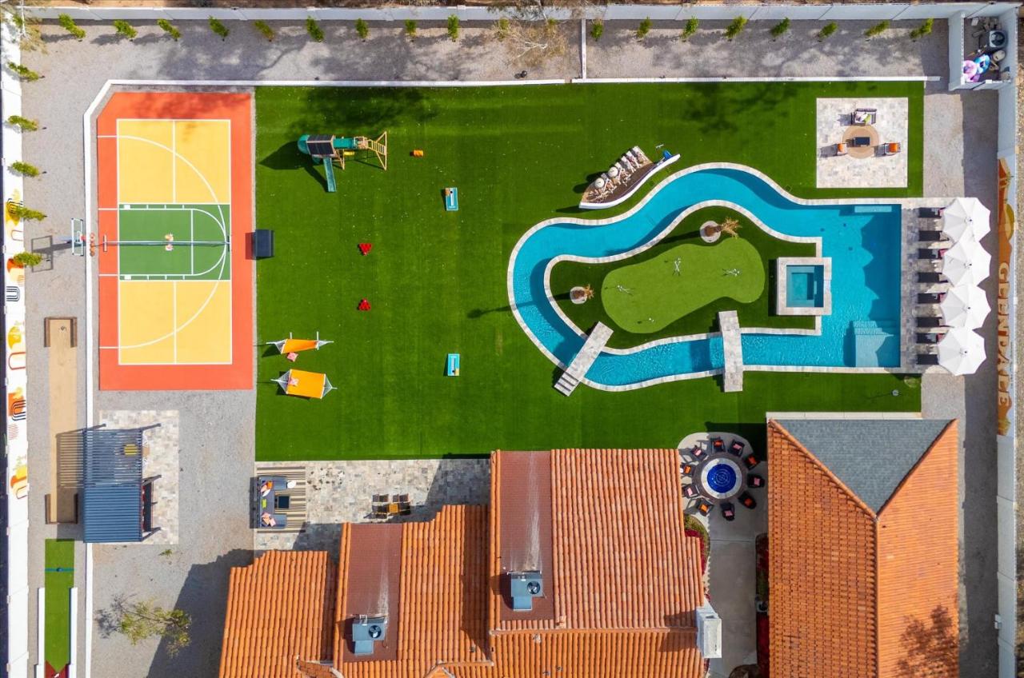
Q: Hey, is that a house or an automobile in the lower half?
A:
house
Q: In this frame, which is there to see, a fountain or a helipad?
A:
fountain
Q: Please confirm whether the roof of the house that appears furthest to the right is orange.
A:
Yes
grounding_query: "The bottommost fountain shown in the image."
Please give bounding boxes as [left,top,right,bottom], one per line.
[703,458,743,498]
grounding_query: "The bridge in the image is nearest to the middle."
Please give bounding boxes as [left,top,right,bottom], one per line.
[556,322,613,395]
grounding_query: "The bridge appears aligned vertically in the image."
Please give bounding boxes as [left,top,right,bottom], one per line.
[717,311,742,391]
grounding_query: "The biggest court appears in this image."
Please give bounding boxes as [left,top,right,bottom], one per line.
[97,92,253,391]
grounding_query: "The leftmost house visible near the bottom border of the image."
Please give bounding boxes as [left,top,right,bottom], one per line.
[219,449,722,678]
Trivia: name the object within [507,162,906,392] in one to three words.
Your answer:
swimming pool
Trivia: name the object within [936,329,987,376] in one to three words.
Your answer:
umbrella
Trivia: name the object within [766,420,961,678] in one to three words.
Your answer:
house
